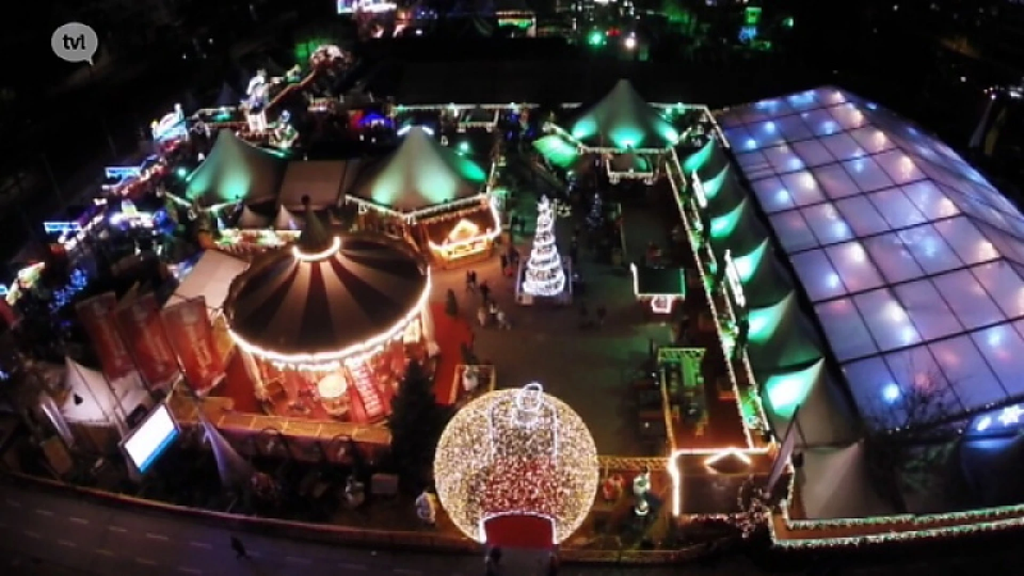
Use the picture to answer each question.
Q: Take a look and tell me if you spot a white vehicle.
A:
No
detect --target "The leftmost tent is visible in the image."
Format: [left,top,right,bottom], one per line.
[57,363,156,451]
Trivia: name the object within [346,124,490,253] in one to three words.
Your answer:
tent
